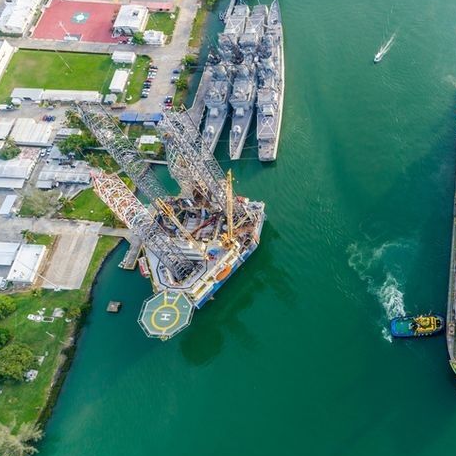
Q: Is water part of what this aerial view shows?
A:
Yes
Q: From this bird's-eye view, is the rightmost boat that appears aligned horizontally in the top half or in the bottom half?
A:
bottom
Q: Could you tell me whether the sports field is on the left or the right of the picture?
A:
left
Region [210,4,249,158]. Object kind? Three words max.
ship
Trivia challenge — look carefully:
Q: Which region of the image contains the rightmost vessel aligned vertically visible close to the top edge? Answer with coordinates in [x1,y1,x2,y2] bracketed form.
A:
[256,0,285,166]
